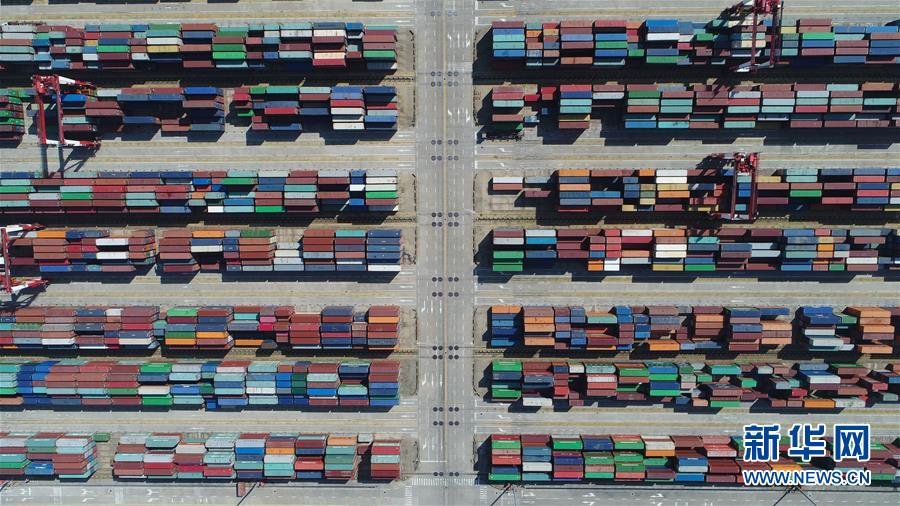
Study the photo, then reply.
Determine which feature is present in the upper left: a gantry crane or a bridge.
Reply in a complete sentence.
There is a gantry crane in the upper left.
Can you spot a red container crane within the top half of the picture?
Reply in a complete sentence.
Yes, I can see a red container crane within the top half of the picture.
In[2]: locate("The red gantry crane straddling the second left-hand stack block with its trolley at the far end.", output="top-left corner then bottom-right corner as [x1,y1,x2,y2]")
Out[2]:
[32,75,100,146]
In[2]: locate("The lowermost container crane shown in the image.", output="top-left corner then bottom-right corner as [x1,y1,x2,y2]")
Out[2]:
[0,223,49,292]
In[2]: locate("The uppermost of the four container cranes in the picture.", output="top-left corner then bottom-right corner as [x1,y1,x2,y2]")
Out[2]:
[722,0,780,73]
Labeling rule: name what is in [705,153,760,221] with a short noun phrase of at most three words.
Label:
container crane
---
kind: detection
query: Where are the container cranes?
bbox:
[722,0,780,73]
[0,223,49,292]
[32,75,100,146]
[705,153,760,221]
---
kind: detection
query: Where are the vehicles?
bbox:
[0,20,46,27]
[482,133,521,139]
